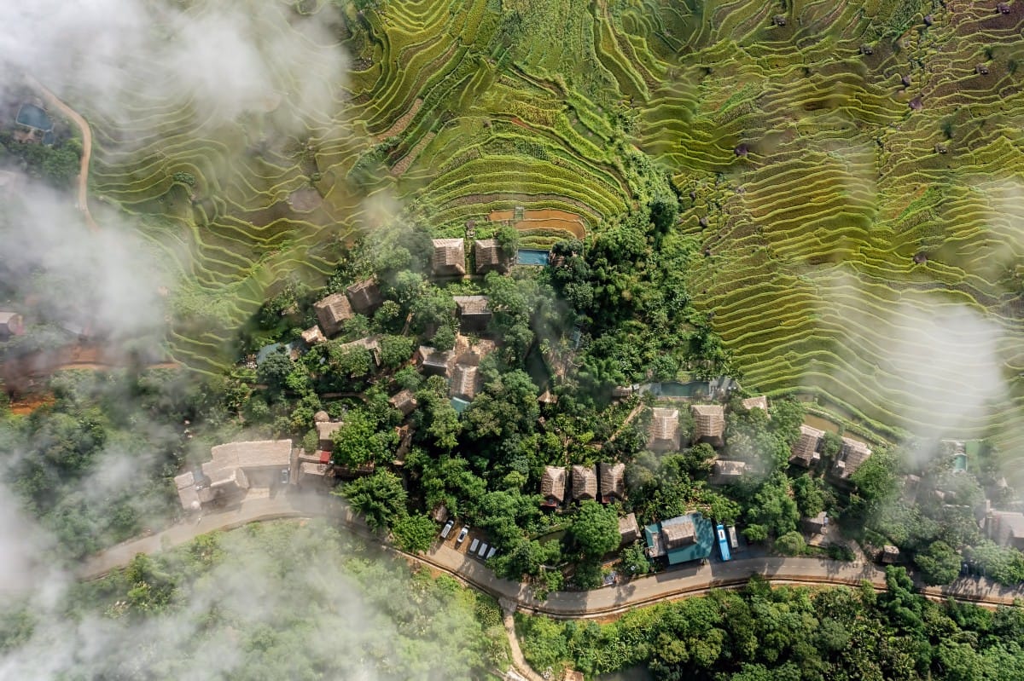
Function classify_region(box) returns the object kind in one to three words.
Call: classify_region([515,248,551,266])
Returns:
swimming pool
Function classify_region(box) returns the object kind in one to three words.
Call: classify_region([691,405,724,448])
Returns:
house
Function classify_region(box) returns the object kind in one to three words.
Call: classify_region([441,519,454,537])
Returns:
vehicle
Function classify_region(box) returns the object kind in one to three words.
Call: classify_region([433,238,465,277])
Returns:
house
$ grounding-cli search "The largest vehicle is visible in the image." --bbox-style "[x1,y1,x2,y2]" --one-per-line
[713,523,731,562]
